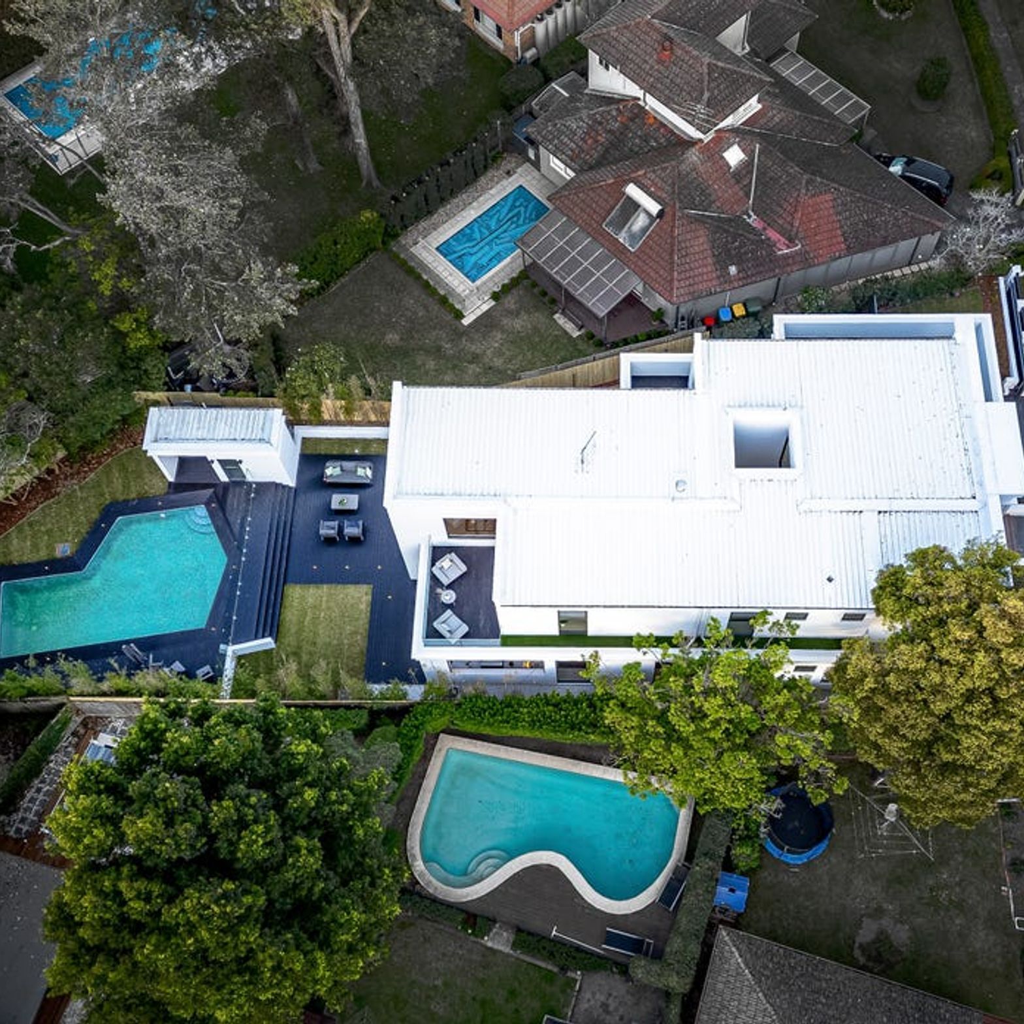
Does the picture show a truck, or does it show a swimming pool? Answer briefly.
swimming pool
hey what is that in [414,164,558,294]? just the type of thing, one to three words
swimming pool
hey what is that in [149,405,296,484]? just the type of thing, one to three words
building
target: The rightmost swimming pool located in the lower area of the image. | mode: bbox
[407,738,694,914]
